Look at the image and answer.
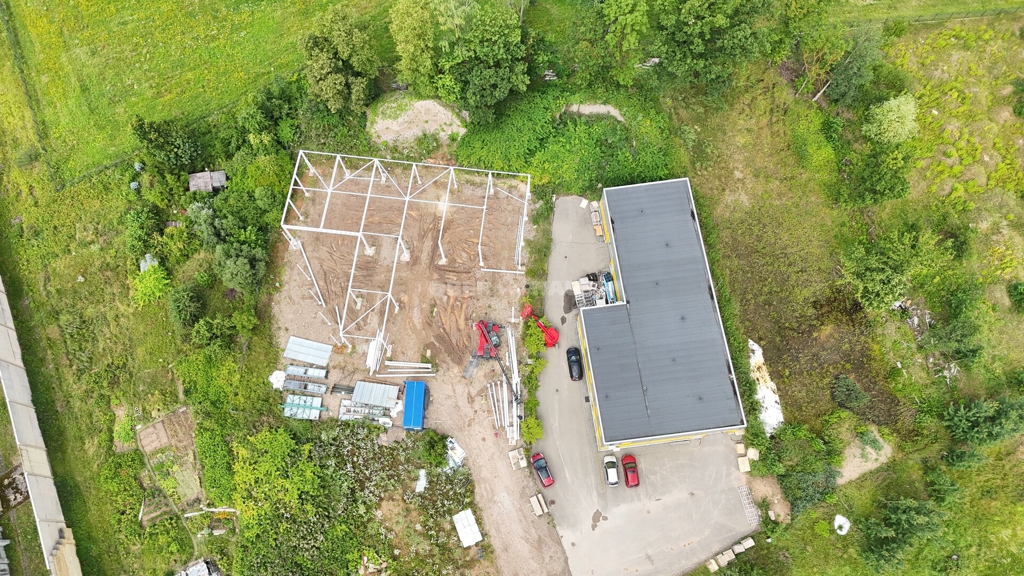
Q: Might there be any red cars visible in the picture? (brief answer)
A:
Yes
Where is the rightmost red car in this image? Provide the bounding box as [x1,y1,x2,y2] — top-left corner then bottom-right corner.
[621,454,639,489]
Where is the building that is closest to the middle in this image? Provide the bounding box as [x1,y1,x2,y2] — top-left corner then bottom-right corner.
[579,179,745,454]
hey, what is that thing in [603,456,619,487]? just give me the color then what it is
white car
